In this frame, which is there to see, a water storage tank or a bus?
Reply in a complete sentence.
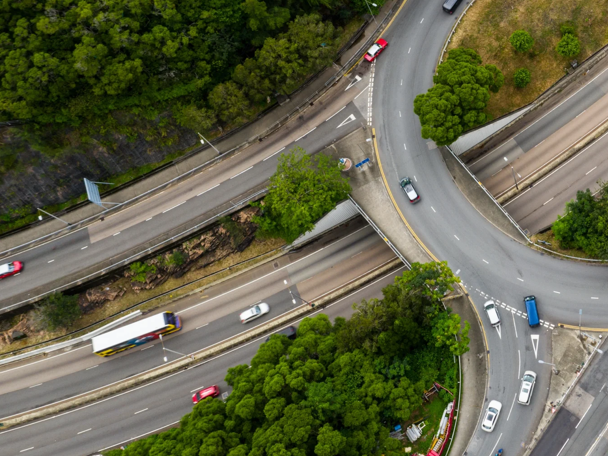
Of the two, only a bus appears.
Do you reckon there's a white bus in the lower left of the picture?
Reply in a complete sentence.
Yes, a white bus appears in the lower left of the picture.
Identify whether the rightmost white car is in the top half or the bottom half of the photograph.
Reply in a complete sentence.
You can find the rightmost white car in the bottom half.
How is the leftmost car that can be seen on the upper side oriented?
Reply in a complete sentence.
In this picture, the leftmost car that can be seen on the upper side is oriented at an angle.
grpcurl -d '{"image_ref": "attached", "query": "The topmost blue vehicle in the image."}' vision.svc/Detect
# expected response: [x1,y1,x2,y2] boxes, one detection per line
[521,295,540,330]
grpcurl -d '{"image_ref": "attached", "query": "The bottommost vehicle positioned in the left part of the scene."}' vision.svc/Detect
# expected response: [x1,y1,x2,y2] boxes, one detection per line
[191,383,223,405]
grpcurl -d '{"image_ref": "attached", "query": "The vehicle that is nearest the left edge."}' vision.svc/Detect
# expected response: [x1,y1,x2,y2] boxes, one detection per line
[0,260,26,280]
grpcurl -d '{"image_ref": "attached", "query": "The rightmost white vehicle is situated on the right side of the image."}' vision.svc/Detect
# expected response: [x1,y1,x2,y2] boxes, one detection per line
[516,368,538,407]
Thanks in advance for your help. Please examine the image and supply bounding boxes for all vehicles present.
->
[191,383,223,405]
[237,300,272,325]
[521,295,540,330]
[0,260,26,280]
[399,175,420,208]
[483,298,502,331]
[479,396,504,437]
[442,0,462,16]
[363,38,391,64]
[92,308,188,359]
[516,368,538,407]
